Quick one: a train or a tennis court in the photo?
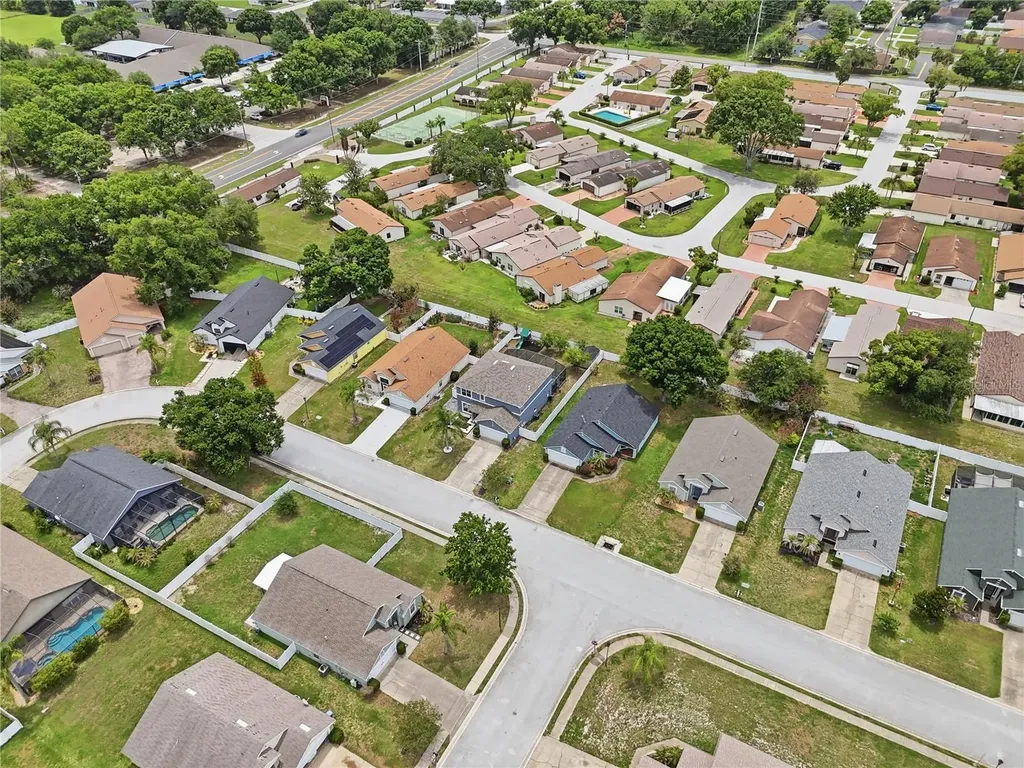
tennis court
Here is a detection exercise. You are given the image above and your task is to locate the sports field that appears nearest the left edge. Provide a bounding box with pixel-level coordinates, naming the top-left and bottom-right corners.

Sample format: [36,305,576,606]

[0,11,79,45]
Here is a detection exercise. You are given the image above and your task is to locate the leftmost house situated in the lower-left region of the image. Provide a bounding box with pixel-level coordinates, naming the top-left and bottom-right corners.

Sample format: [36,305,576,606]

[0,530,86,645]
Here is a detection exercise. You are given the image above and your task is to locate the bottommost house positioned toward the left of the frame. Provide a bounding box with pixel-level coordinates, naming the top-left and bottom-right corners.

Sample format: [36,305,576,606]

[122,649,340,768]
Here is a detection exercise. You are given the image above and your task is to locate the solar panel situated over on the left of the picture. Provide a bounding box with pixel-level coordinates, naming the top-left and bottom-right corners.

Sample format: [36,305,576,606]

[320,314,375,368]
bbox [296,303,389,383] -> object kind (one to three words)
house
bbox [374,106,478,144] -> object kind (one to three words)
tennis court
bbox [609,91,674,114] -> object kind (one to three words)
building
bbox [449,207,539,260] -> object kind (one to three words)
house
